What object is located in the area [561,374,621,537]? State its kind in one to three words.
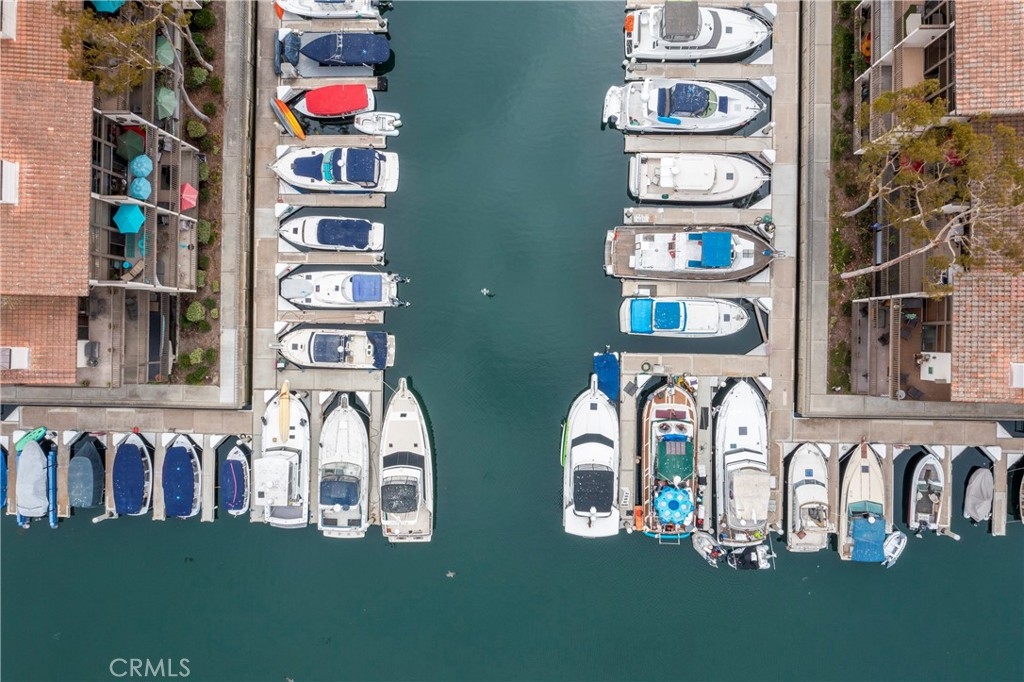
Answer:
boat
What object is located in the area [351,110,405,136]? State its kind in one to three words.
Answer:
boat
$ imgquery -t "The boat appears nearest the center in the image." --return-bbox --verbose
[592,345,621,401]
